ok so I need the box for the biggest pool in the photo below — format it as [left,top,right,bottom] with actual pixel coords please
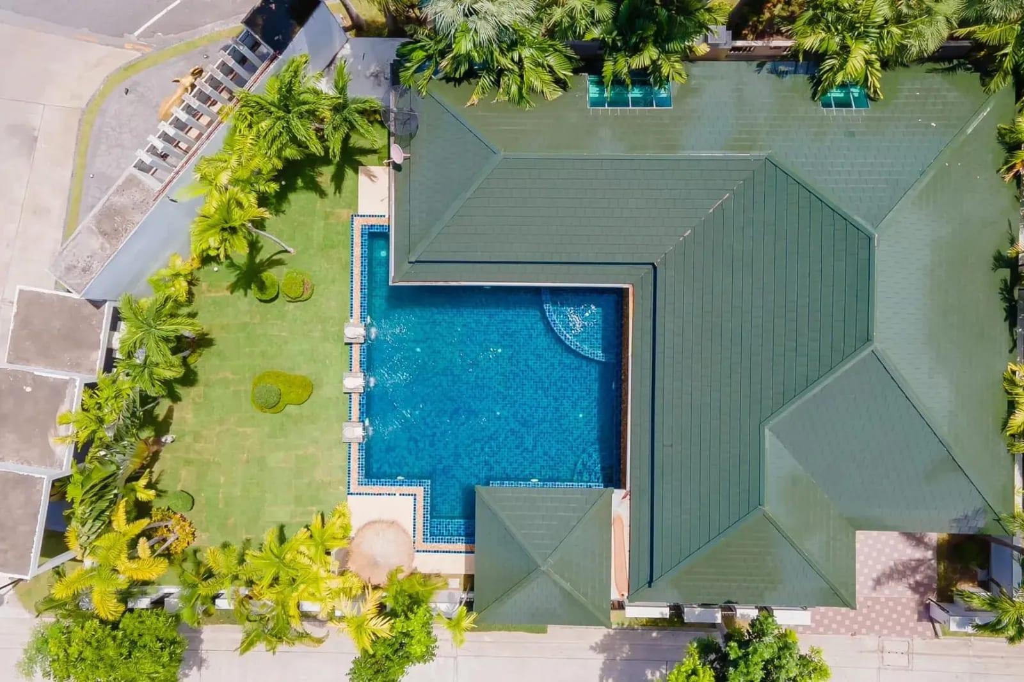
[347,214,622,554]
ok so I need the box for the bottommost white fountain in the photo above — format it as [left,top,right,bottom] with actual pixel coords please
[341,422,379,442]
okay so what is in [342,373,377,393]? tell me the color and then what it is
white fountain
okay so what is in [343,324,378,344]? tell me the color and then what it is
white fountain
